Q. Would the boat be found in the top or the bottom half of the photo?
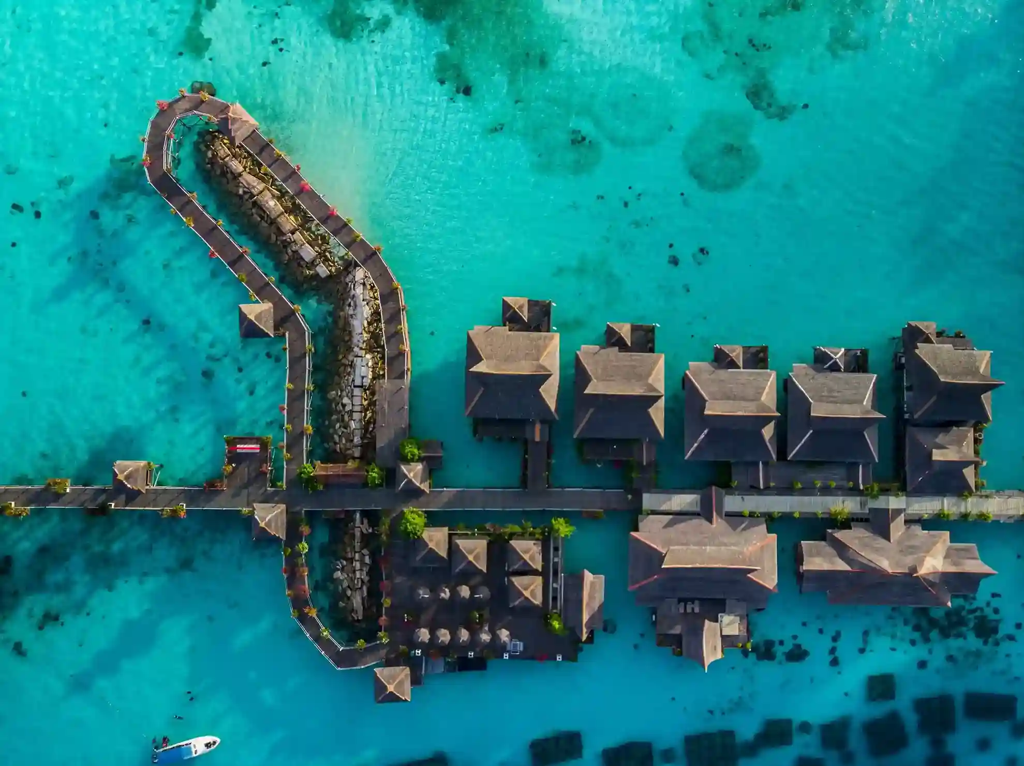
bottom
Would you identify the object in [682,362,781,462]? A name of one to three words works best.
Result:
house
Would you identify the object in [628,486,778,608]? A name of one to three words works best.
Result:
building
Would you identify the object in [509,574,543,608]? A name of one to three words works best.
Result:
gazebo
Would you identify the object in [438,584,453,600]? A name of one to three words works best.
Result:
umbrella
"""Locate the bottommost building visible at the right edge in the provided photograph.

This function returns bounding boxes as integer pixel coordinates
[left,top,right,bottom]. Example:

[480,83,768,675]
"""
[795,508,999,608]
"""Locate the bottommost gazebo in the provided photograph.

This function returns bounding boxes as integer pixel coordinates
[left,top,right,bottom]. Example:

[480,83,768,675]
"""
[373,660,412,704]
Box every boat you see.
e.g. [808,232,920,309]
[149,737,220,766]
